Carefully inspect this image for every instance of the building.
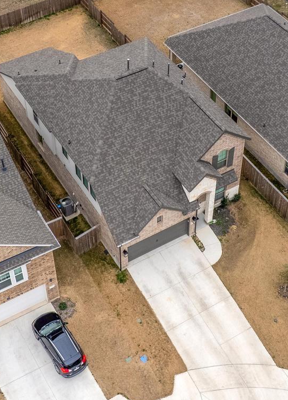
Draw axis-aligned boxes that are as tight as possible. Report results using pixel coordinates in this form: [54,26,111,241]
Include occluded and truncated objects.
[0,132,64,324]
[0,37,253,271]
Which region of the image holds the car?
bottom left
